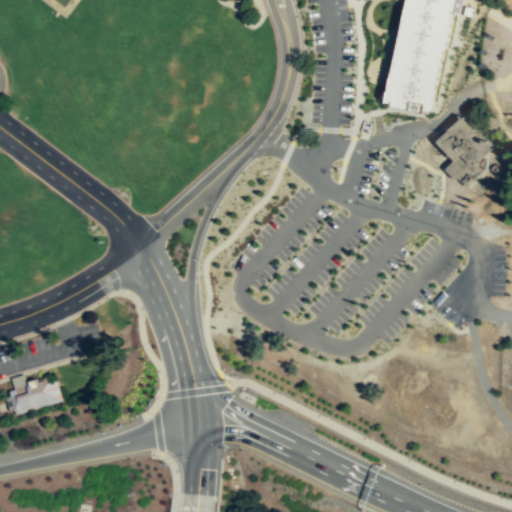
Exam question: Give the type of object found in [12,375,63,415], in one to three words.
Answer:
house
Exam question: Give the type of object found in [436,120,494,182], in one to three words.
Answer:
building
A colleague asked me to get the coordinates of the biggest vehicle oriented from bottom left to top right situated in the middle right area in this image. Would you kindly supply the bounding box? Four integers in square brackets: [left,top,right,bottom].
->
[434,290,448,306]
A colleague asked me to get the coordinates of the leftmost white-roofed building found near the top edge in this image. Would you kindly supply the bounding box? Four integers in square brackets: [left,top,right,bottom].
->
[384,0,460,114]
